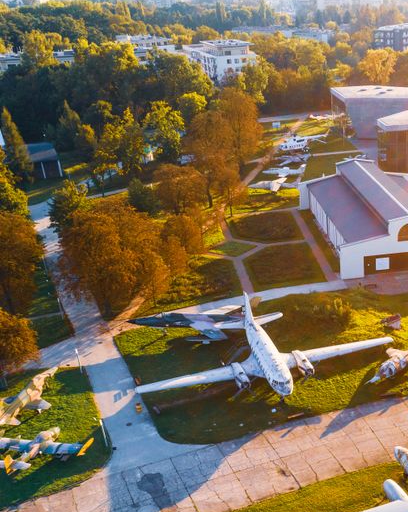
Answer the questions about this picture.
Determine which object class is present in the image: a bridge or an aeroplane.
aeroplane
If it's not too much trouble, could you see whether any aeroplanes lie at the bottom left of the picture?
Yes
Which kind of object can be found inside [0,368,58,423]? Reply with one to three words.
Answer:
airplane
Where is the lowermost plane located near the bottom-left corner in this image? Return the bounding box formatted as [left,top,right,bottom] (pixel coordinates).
[0,429,87,477]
